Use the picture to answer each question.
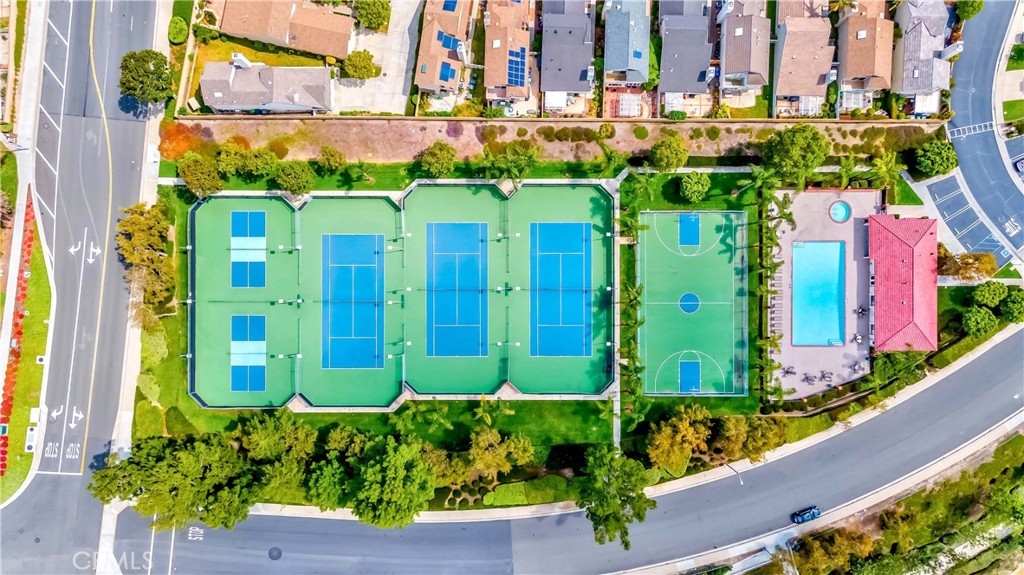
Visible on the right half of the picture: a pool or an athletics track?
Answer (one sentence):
The one visible on the right half of the picture is a pool.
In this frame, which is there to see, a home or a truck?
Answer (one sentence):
Of the two, only a home appears.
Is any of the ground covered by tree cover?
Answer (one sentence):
Yes, there is tree cover in the image.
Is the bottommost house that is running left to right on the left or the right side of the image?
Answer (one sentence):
The bottommost house that is running left to right sits on the left side.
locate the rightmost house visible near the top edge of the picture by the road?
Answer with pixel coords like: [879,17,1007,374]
[889,0,966,99]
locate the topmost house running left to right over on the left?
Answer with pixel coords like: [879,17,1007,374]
[220,0,357,61]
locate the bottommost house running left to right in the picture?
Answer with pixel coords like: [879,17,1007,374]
[201,51,335,112]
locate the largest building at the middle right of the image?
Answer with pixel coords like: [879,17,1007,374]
[858,214,938,352]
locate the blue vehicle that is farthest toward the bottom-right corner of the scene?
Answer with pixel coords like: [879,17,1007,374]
[792,507,821,526]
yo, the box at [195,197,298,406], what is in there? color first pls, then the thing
green sports court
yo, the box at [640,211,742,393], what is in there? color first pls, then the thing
green basketball court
